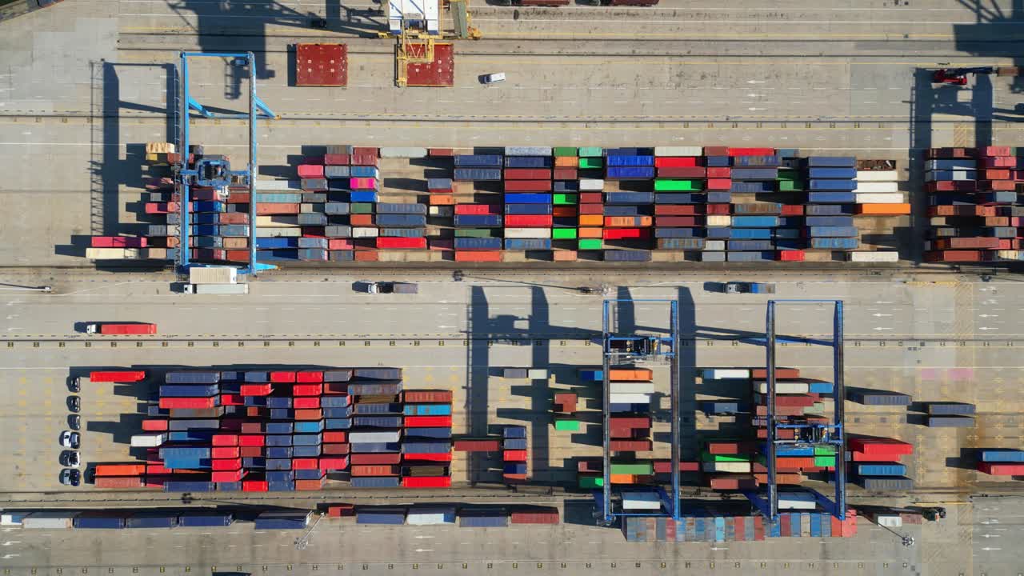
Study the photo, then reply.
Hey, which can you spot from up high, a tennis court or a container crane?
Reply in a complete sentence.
I can see a container crane in this picture.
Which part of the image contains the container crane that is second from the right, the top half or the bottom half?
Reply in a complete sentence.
The container crane that is second from the right is in the bottom half of the image.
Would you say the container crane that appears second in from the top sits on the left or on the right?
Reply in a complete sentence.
The container crane that appears second in from the top appears in the left half of the scene.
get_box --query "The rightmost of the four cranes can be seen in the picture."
[729,300,842,522]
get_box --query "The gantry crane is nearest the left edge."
[173,52,285,283]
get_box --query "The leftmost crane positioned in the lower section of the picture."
[581,300,678,522]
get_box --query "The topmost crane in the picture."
[374,0,480,86]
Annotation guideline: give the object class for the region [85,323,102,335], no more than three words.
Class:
vehicle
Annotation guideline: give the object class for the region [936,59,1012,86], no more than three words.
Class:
work vehicle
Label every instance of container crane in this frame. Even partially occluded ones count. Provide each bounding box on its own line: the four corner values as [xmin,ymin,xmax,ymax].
[581,300,678,522]
[374,0,480,86]
[729,300,842,522]
[173,52,285,283]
